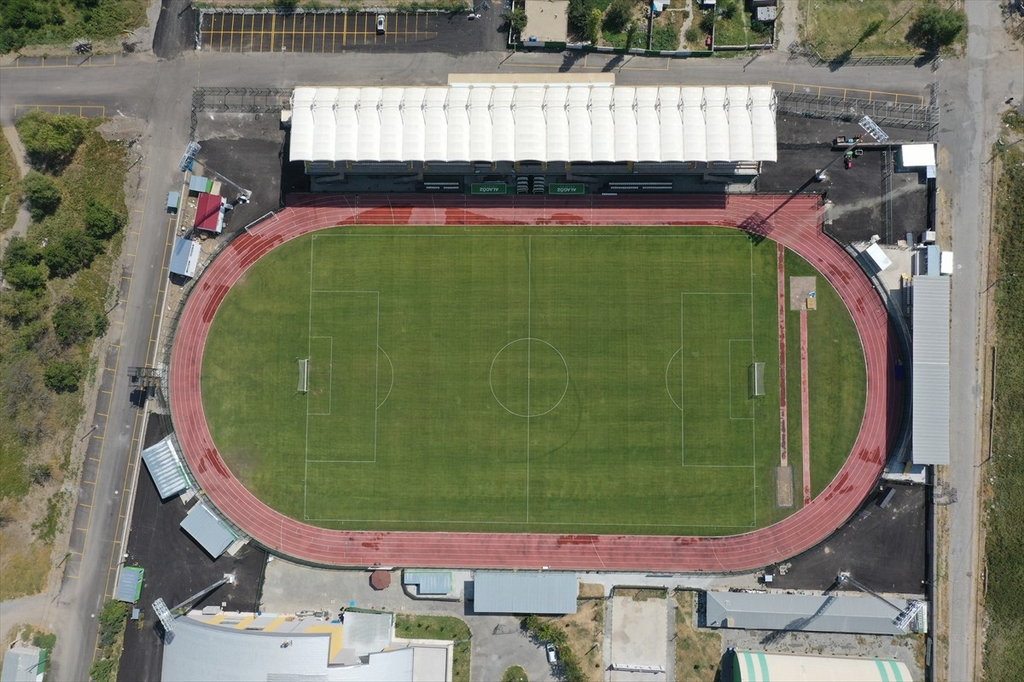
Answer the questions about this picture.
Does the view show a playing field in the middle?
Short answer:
Yes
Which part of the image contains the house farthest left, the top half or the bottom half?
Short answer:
bottom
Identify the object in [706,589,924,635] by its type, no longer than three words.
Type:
building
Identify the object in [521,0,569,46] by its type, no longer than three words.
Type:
house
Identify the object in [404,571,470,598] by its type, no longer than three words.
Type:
building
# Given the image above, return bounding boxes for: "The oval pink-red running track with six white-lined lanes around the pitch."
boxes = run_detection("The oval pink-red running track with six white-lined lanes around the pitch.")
[168,193,900,573]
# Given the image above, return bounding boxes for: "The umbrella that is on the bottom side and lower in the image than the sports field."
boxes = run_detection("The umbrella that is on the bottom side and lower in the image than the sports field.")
[371,569,390,589]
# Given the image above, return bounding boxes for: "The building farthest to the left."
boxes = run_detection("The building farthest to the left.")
[3,631,51,682]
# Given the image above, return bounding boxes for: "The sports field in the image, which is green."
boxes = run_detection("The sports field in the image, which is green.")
[202,226,867,537]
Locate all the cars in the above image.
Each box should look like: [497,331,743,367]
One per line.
[376,14,385,31]
[547,646,558,665]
